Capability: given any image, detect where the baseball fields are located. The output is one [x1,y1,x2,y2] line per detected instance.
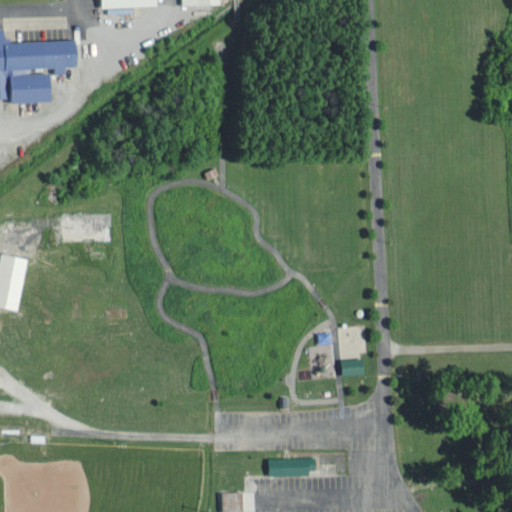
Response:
[0,455,90,512]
